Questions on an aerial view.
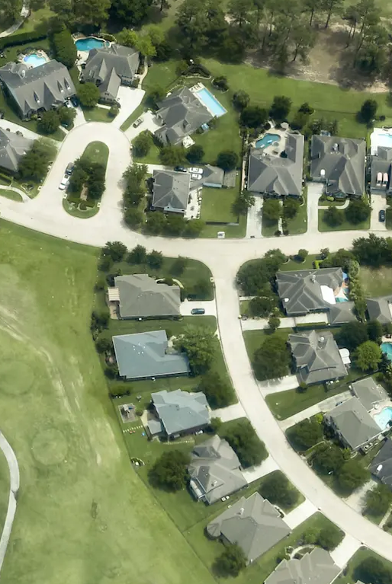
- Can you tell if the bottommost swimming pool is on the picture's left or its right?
right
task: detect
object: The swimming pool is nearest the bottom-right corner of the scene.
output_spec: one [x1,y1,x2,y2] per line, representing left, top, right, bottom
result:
[368,403,392,431]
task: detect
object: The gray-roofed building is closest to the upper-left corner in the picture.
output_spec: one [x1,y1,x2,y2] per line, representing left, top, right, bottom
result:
[0,58,75,114]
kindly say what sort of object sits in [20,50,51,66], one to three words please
swimming pool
